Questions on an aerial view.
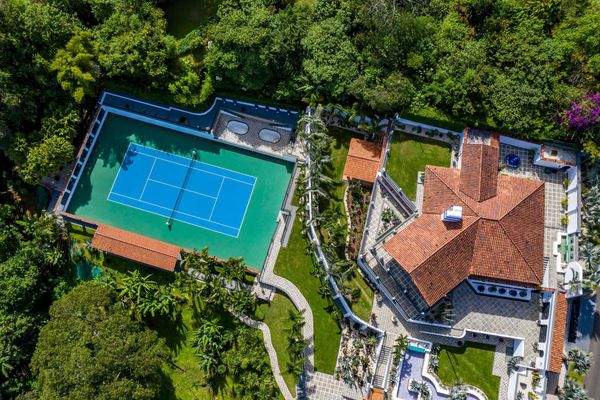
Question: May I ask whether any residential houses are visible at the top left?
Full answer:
No, there's no residential house to be seen at the top left.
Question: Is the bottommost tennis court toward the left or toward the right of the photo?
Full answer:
It is on the left.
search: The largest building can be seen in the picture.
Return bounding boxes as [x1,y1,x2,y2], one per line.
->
[384,127,547,306]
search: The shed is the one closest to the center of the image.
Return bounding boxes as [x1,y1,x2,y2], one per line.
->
[343,139,382,184]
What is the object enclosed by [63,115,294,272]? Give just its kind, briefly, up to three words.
tennis court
